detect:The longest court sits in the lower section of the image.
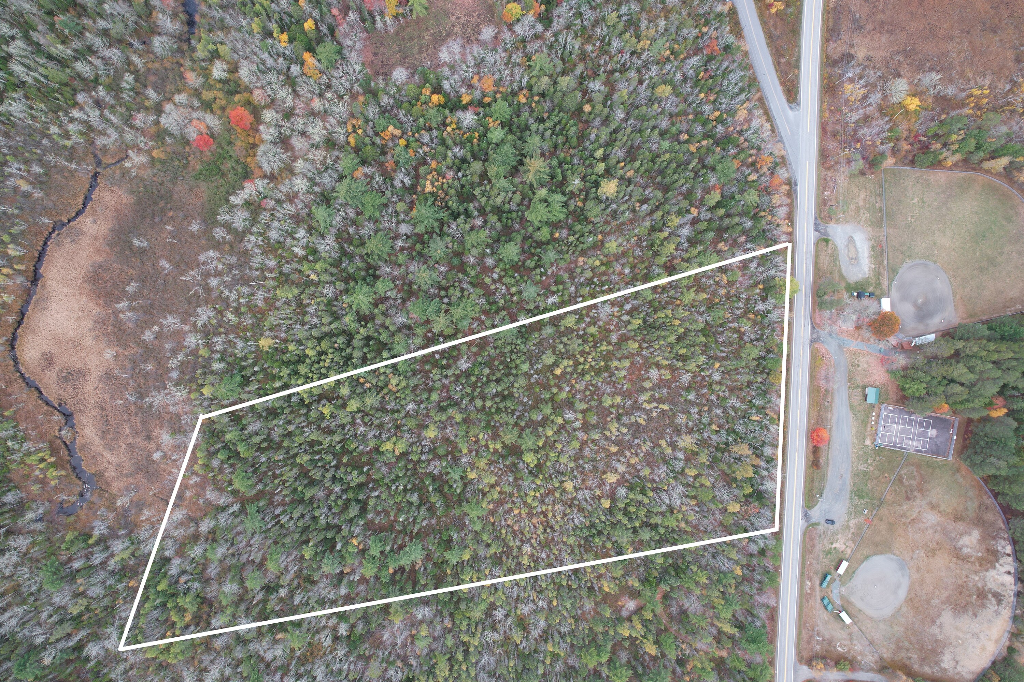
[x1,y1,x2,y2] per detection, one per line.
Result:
[877,405,952,459]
